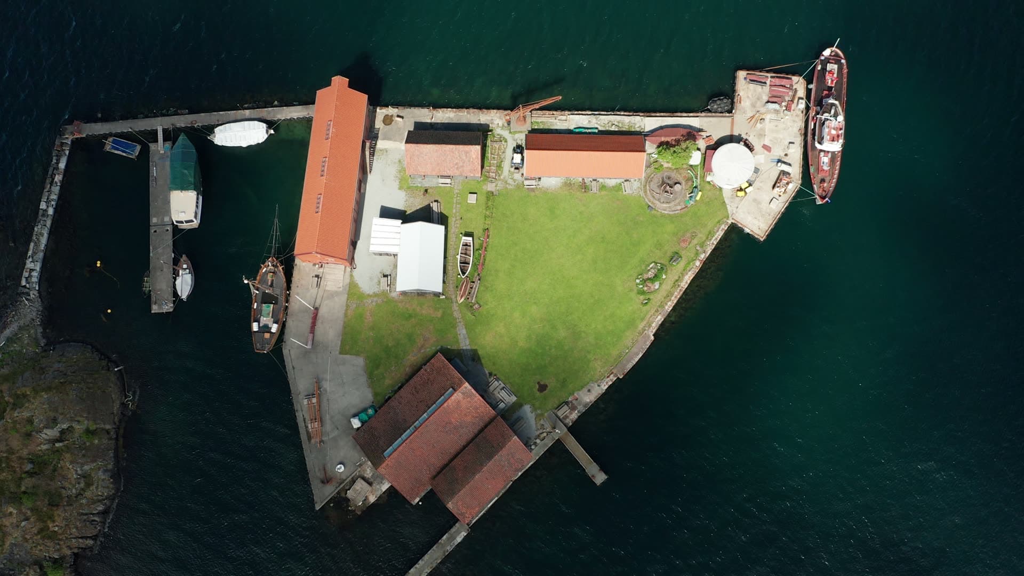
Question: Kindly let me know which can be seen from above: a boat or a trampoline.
boat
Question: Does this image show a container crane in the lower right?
No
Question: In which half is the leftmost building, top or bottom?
top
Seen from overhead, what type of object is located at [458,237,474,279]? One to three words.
boat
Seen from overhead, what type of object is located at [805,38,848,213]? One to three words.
ship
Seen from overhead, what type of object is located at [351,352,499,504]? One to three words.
building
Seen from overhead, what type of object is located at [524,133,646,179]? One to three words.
shed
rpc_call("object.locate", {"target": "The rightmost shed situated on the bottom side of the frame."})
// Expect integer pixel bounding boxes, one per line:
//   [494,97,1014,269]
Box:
[432,417,532,524]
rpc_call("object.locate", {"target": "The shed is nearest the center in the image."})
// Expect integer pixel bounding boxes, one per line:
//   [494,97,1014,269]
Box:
[396,222,445,294]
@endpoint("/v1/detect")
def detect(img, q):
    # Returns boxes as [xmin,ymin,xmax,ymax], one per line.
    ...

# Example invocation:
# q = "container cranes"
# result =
[502,95,562,133]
